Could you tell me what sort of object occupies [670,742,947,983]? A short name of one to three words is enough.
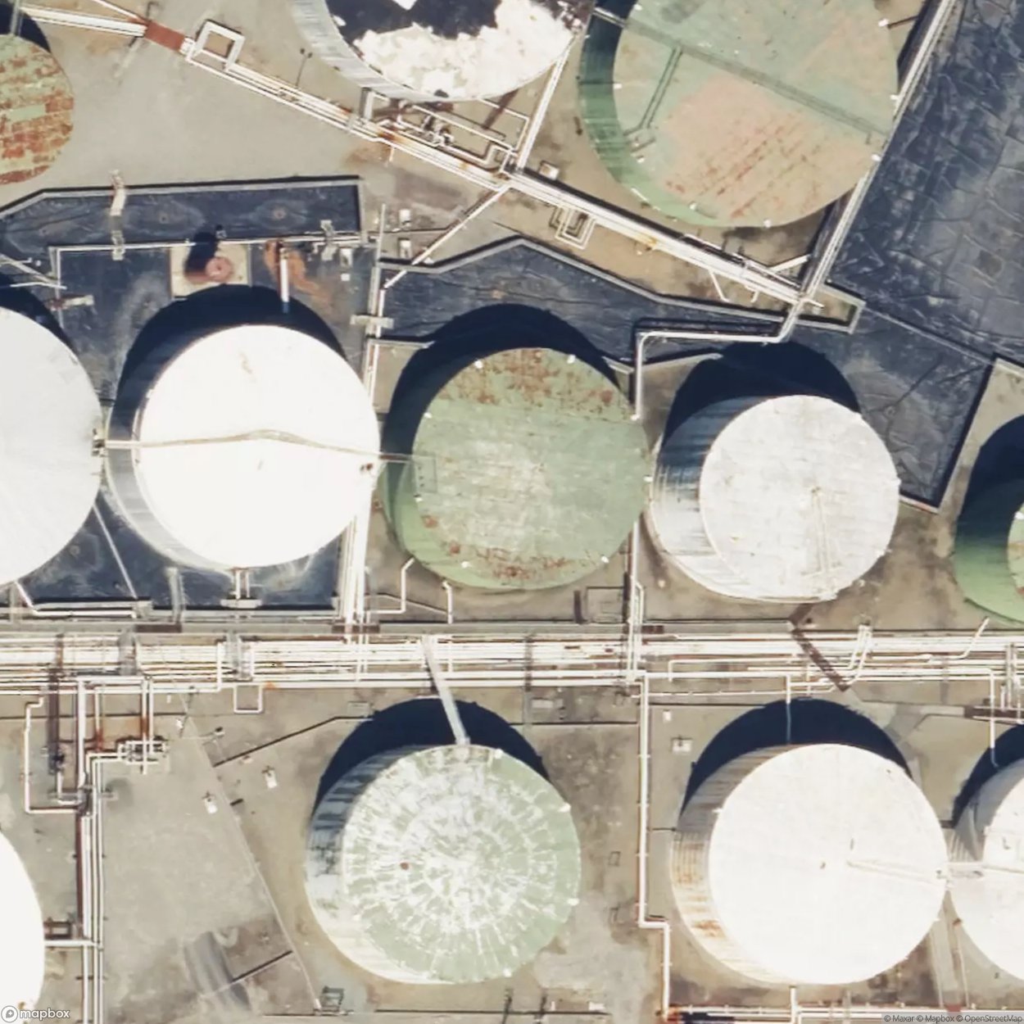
storage tank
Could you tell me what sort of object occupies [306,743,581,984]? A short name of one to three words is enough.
storage tank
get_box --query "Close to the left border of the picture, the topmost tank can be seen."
[0,33,75,185]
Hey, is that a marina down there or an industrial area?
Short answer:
industrial area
